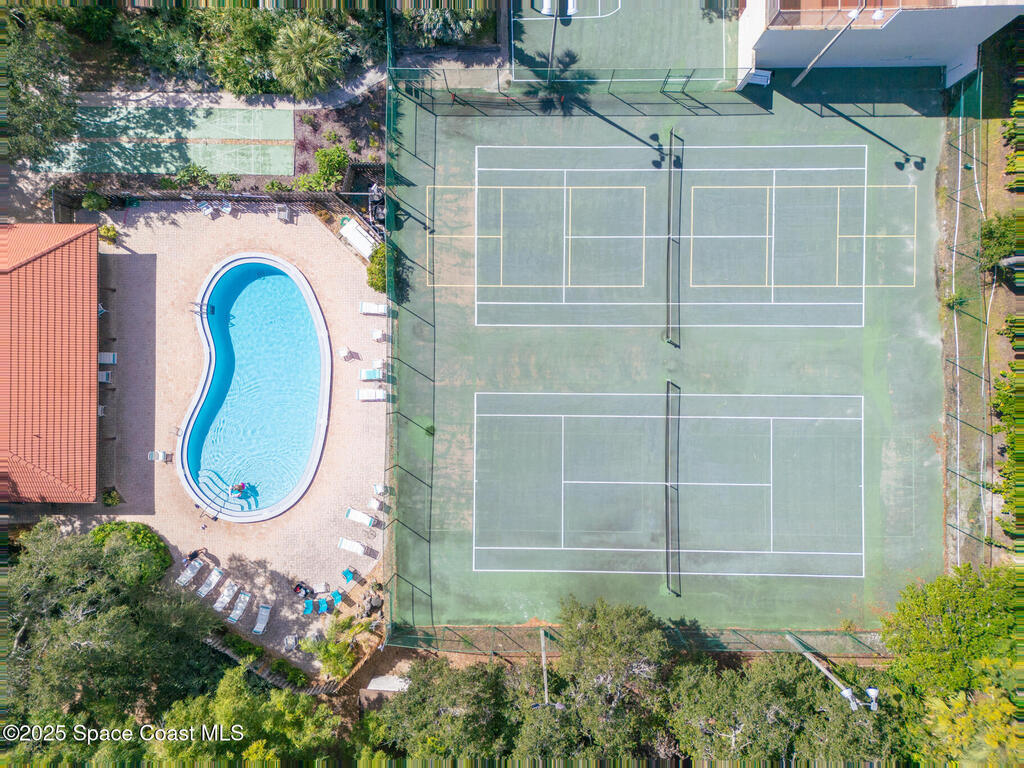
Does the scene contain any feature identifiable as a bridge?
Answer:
No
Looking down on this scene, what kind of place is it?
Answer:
sports ground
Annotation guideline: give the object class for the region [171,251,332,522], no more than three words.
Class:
swimming pool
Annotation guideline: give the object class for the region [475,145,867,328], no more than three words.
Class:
tennis court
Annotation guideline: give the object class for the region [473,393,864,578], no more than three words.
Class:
tennis court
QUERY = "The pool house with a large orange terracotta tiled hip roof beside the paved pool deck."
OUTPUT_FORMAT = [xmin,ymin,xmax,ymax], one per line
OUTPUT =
[0,221,117,505]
